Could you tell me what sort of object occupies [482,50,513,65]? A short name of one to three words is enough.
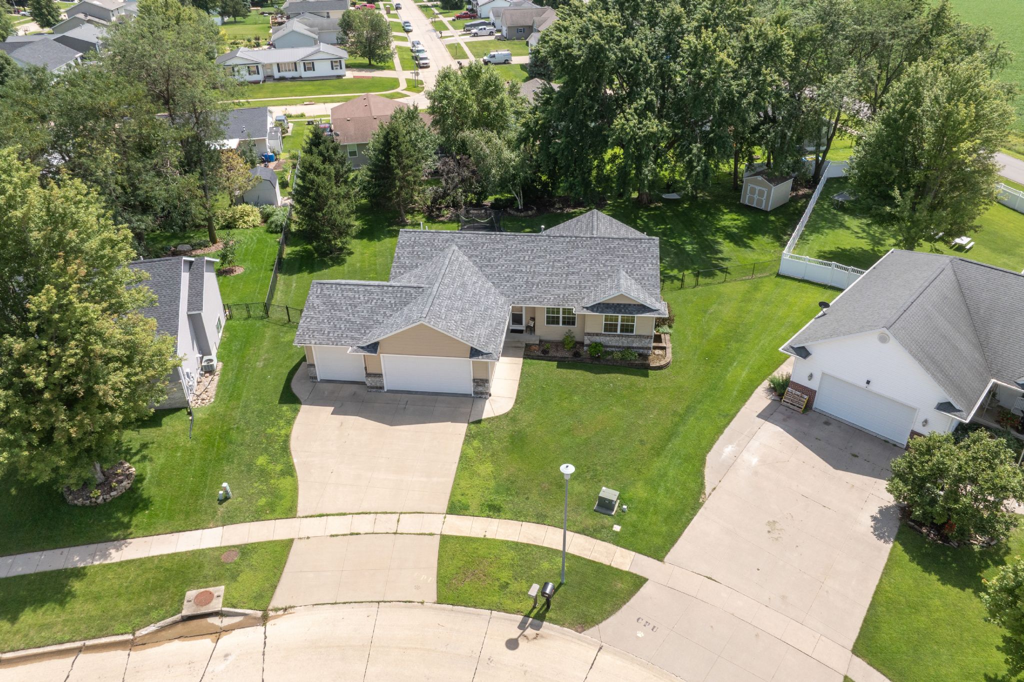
vehicle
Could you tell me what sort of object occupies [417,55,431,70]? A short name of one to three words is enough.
car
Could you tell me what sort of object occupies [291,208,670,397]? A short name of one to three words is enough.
house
